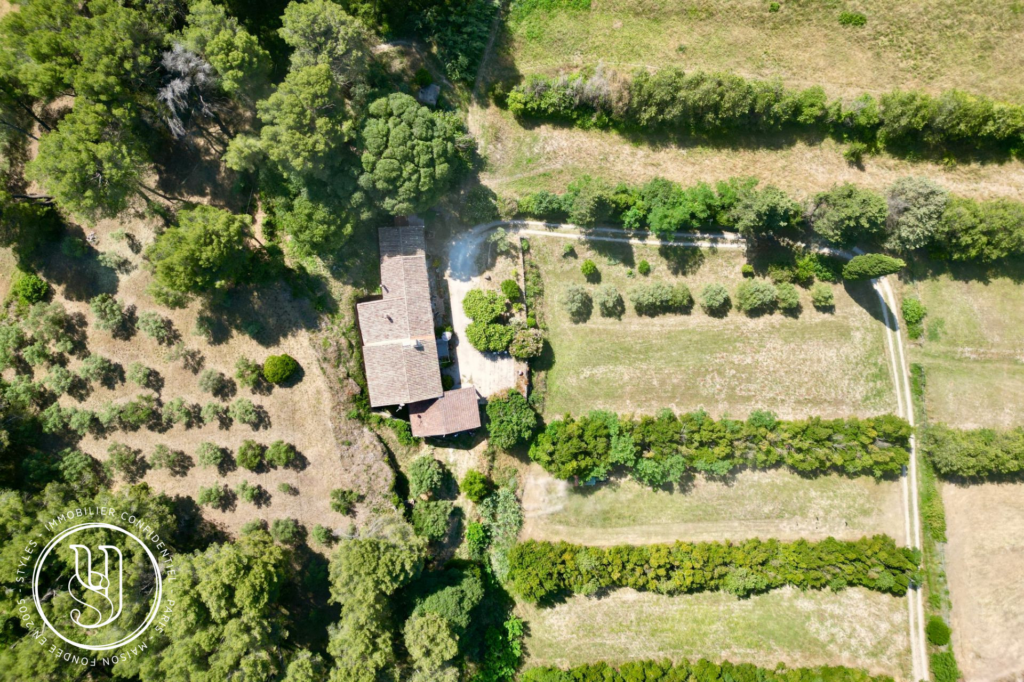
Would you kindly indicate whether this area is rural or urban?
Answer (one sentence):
It looks rural.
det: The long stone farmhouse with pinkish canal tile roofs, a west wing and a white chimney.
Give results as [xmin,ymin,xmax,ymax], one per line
[356,226,444,409]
